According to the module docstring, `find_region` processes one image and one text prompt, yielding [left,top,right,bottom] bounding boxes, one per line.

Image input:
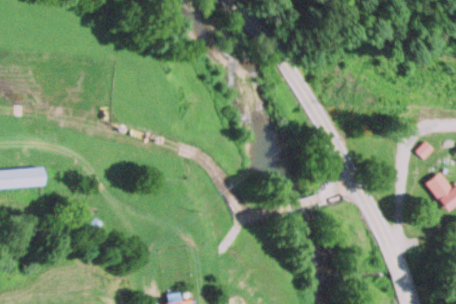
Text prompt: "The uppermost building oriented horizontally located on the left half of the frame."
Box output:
[0,164,48,188]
